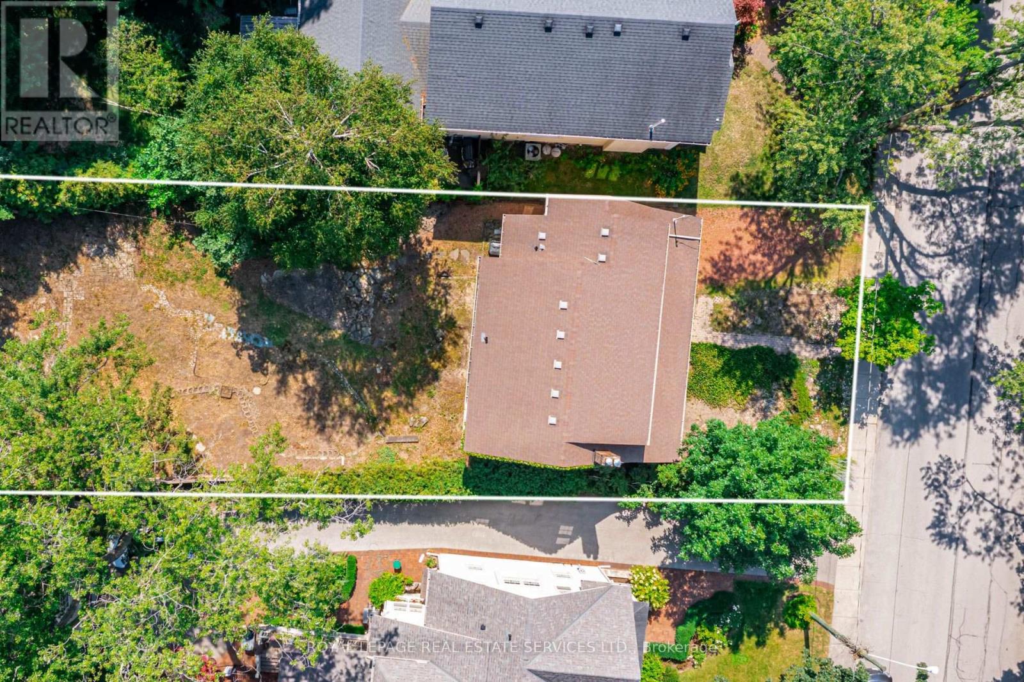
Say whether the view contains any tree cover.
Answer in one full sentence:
Yes, tree cover shows up in the scene.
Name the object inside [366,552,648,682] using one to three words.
house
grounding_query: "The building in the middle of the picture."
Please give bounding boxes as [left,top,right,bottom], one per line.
[464,196,703,470]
